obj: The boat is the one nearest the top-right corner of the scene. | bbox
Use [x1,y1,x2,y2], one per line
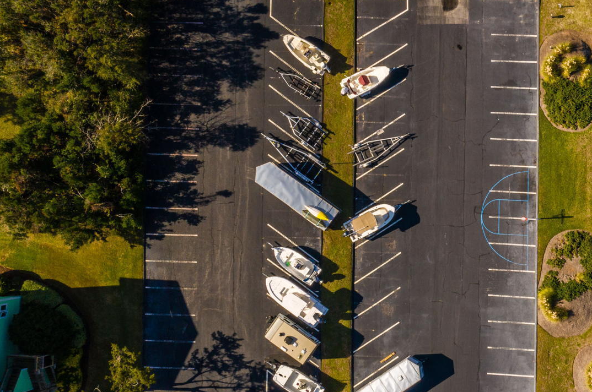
[340,66,390,99]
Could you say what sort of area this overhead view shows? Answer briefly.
parking lot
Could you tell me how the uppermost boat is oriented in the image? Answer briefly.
on a diagonal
